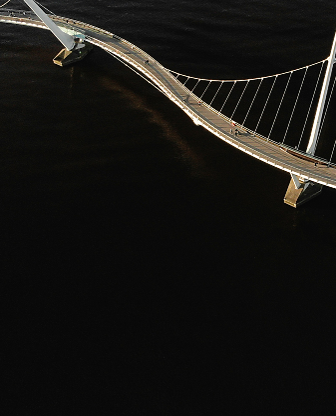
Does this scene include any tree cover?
No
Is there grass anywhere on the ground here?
No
